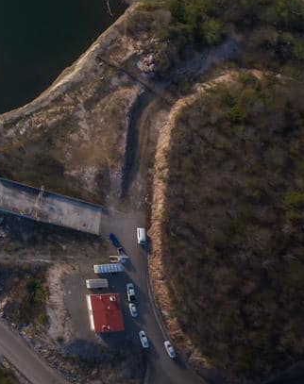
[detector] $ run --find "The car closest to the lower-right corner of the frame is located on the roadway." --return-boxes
[163,340,176,359]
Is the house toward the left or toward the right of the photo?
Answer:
left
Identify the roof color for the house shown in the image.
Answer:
red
